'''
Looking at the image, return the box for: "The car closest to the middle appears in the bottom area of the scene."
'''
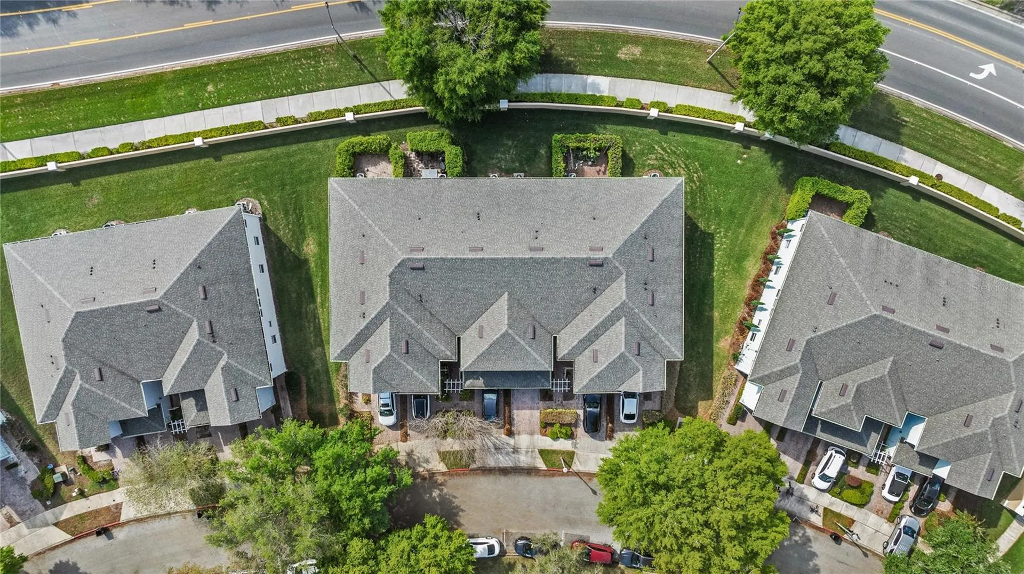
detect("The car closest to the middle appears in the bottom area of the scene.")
[478,389,502,421]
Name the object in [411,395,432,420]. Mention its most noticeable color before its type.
black car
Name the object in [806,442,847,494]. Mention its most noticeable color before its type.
white car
